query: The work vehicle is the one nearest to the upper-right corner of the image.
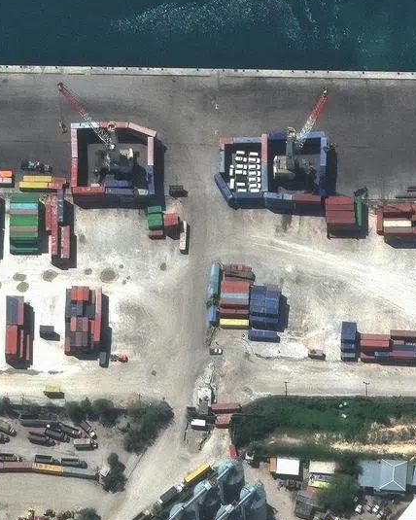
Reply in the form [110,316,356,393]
[355,180,375,199]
